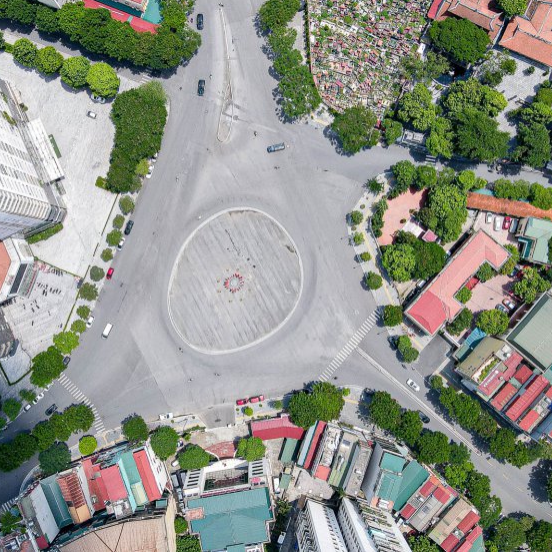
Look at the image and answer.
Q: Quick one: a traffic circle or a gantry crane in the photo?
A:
traffic circle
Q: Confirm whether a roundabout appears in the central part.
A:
Yes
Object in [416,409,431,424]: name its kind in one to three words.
car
